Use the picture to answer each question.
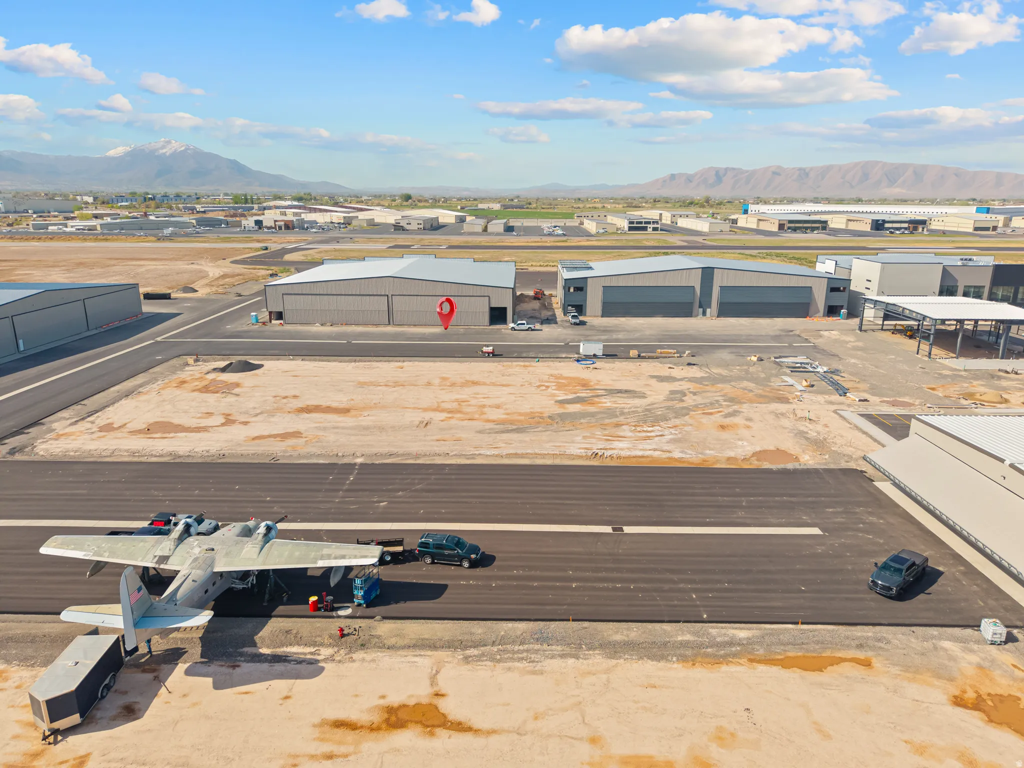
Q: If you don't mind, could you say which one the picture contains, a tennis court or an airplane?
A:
airplane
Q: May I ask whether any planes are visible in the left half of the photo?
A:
Yes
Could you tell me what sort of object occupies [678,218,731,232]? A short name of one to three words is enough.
hangar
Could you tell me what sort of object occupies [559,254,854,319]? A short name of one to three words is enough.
hangar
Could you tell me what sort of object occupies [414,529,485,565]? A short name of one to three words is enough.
car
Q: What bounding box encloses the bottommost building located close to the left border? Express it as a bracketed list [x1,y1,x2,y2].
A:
[0,282,142,363]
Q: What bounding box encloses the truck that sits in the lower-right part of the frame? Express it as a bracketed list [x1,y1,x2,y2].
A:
[872,546,933,594]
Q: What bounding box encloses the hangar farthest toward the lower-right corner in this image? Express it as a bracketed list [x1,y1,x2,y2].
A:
[862,408,1024,586]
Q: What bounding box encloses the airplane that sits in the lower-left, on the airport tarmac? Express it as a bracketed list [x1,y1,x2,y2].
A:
[39,514,384,653]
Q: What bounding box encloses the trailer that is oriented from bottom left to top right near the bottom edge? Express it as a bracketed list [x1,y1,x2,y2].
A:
[27,627,139,750]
